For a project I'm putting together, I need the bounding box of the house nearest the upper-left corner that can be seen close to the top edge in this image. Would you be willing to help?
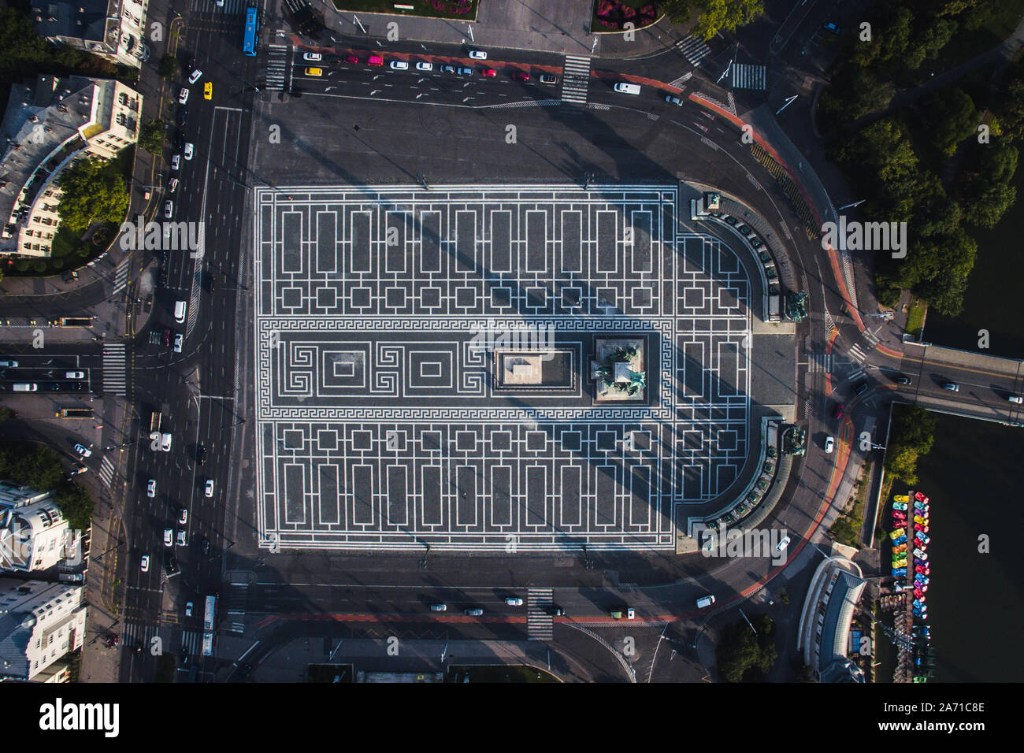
[31,0,151,67]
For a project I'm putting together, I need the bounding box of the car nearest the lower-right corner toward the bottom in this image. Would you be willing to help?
[774,534,791,553]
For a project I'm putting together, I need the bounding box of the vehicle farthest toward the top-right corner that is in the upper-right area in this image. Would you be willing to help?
[822,22,841,36]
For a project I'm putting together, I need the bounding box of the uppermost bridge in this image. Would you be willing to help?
[912,342,1024,428]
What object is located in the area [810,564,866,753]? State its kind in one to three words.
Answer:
building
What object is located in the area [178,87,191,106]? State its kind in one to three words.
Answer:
vehicle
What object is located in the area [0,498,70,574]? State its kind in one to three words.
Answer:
house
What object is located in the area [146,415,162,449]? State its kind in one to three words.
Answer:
vehicle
